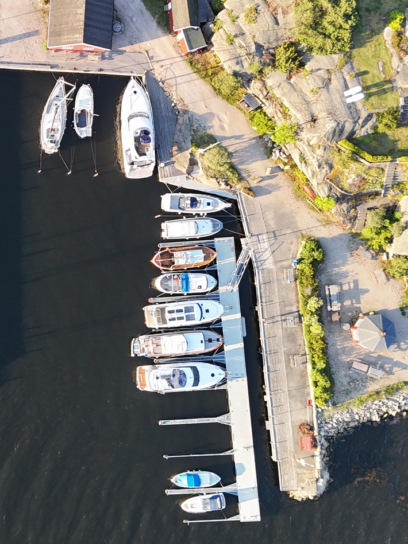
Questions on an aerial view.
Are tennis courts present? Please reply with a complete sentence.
No, the scene contains no tennis court.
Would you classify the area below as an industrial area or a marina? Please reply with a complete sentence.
What you see here is a marina.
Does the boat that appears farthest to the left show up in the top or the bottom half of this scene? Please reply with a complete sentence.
You can find the boat that appears farthest to the left in the top half.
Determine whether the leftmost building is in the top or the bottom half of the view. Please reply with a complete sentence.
The leftmost building sits in the top half of the picture.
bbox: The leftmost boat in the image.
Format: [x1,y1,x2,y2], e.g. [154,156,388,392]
[40,71,73,171]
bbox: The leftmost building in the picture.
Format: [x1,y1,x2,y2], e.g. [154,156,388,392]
[47,0,114,54]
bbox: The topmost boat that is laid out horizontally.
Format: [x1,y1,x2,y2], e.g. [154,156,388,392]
[155,187,242,219]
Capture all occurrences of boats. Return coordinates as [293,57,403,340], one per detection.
[129,326,225,358]
[155,216,242,240]
[132,362,231,393]
[139,295,228,327]
[167,466,222,488]
[155,187,242,219]
[70,85,96,171]
[40,71,73,171]
[153,269,217,296]
[179,490,227,514]
[150,245,217,270]
[118,72,156,184]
